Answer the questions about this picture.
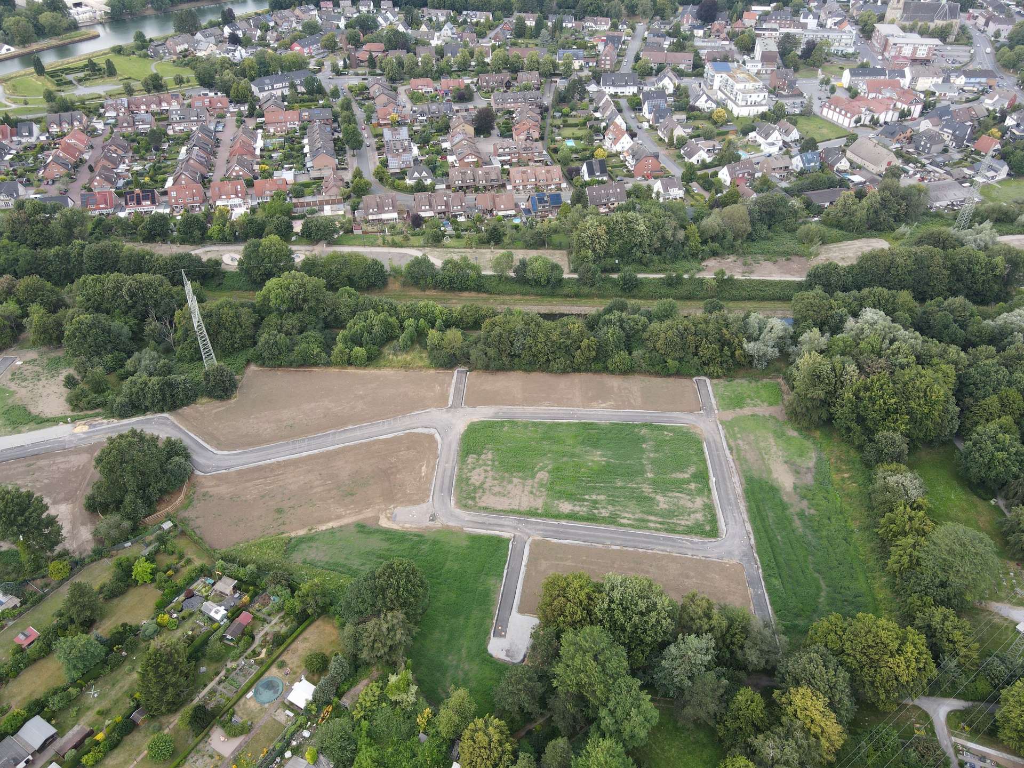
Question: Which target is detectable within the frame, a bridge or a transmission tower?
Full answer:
Looking from above, you can make out a transmission tower.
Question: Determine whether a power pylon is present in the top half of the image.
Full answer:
Yes, I can see a power pylon in the top half of the image.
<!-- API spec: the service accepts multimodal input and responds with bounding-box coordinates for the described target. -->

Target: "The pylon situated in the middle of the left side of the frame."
[182,272,221,372]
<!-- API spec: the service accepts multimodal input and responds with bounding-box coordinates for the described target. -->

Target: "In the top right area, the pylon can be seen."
[953,142,1005,224]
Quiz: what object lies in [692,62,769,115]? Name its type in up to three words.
building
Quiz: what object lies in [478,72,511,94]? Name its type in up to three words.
house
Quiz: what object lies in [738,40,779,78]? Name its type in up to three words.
building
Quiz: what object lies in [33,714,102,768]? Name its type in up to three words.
shed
